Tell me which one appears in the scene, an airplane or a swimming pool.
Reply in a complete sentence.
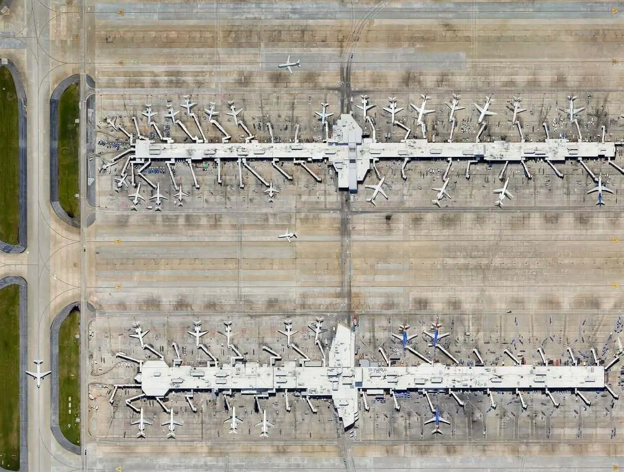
Looking from above, you can make out an airplane.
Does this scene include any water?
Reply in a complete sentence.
No, no water is visible.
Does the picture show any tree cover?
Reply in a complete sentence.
No, the picture contains no tree cover.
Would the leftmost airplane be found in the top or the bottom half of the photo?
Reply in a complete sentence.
The leftmost airplane is in the bottom half of the image.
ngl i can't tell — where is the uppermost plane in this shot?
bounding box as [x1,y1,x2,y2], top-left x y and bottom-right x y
[277,55,300,73]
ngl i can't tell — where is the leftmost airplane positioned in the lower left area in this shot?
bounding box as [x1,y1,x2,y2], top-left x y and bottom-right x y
[25,360,51,387]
